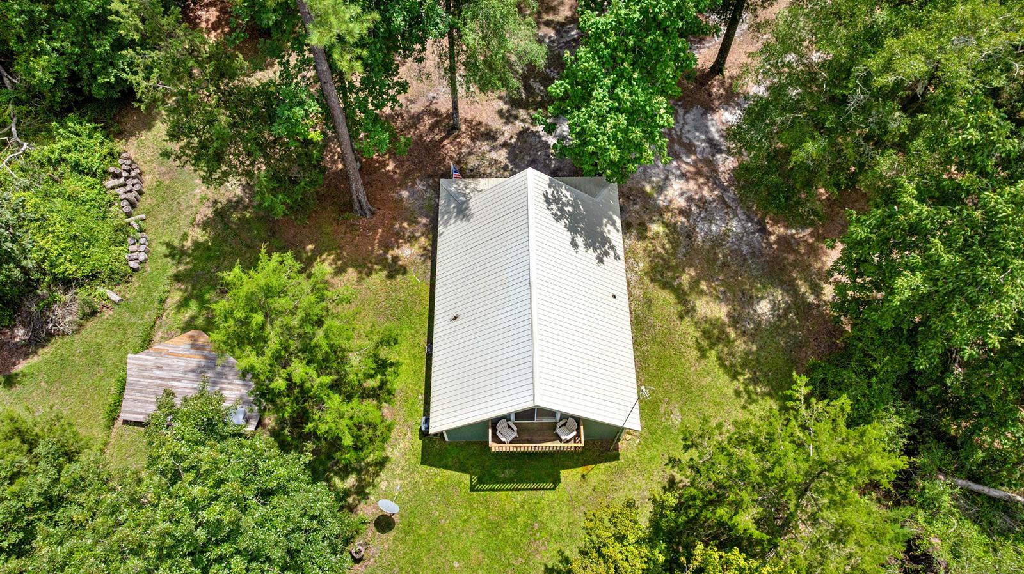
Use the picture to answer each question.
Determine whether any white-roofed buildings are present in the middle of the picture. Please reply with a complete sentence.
Yes, there is a white-roofed building in the middle of the picture.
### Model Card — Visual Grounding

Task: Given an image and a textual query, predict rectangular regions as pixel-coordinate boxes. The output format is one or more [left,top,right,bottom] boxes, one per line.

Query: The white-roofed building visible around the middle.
[427,168,642,457]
